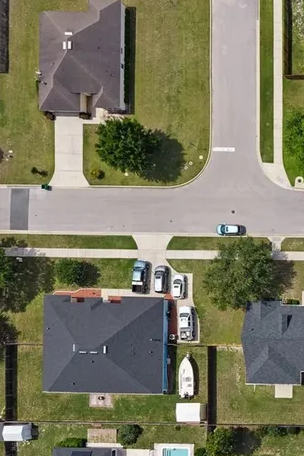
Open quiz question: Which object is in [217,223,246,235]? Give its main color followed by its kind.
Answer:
white vehicle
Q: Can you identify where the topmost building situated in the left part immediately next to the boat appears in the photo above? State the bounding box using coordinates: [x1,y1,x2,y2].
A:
[43,295,169,394]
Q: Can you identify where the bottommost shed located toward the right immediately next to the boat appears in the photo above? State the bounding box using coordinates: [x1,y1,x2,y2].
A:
[176,402,207,422]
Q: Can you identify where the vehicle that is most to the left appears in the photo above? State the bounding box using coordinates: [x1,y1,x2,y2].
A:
[131,258,148,292]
